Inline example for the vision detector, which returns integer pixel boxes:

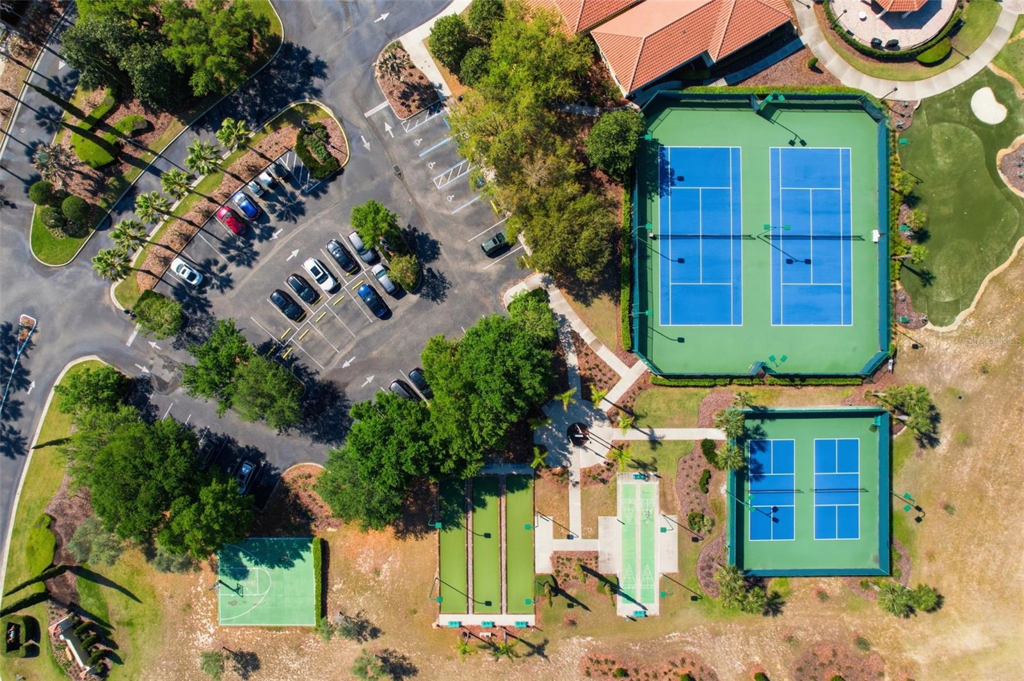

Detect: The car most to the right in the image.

[481,233,507,254]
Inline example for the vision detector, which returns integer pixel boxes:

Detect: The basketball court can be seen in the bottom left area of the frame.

[218,538,314,626]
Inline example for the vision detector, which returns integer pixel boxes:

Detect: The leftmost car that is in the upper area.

[171,257,204,285]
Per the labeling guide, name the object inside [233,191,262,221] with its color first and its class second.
blue car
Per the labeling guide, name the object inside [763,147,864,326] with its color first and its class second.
blue tennis court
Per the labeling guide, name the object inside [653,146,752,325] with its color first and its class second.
blue tennis court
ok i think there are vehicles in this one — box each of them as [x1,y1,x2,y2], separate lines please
[327,238,358,274]
[359,283,389,319]
[408,369,426,393]
[389,375,419,408]
[347,234,378,266]
[273,288,303,323]
[233,191,262,221]
[481,233,507,254]
[171,257,204,285]
[248,181,267,199]
[272,163,290,181]
[306,257,337,293]
[371,262,400,296]
[290,272,319,307]
[217,206,247,235]
[258,171,276,189]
